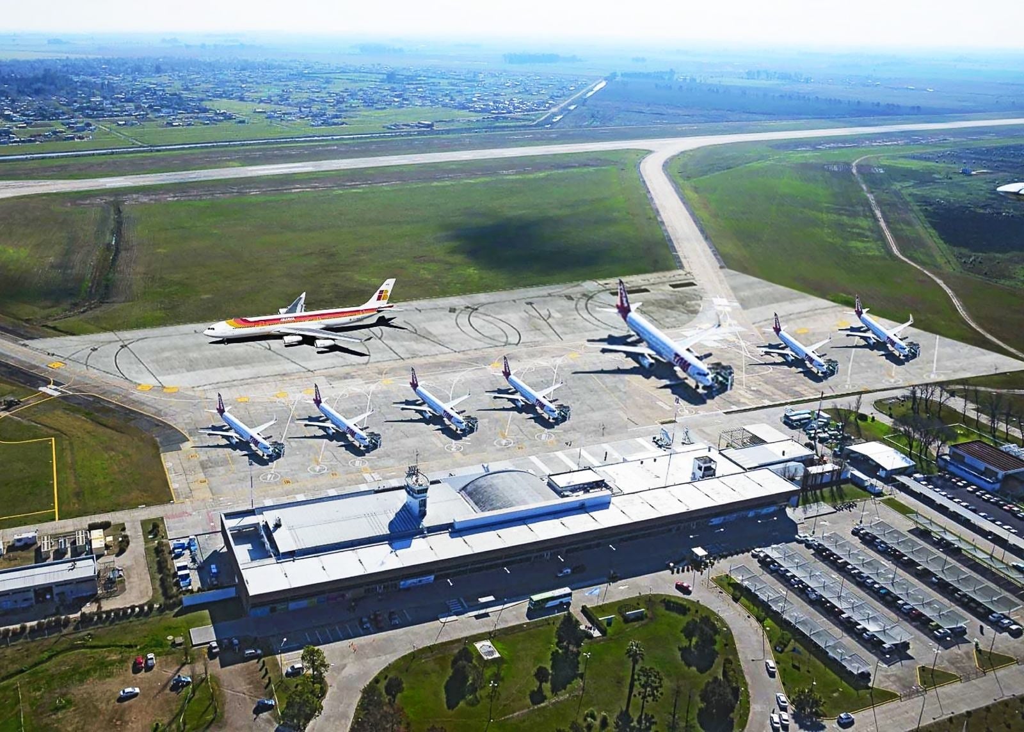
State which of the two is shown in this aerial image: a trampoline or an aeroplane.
aeroplane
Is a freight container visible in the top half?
No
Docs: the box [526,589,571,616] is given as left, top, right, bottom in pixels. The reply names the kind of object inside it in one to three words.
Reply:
bus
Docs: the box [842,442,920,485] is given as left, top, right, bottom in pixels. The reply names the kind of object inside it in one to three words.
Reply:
hangar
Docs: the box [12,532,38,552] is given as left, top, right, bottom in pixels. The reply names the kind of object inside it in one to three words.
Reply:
building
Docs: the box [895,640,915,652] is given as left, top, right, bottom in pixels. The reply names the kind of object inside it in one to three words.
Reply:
vehicle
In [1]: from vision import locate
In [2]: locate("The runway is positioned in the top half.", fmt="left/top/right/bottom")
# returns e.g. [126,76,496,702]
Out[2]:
[0,119,1024,198]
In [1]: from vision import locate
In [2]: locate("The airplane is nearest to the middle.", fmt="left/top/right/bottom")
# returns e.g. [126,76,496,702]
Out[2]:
[481,354,562,419]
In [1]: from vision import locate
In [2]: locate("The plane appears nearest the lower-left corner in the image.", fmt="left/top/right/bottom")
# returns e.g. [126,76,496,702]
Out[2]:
[195,391,275,457]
